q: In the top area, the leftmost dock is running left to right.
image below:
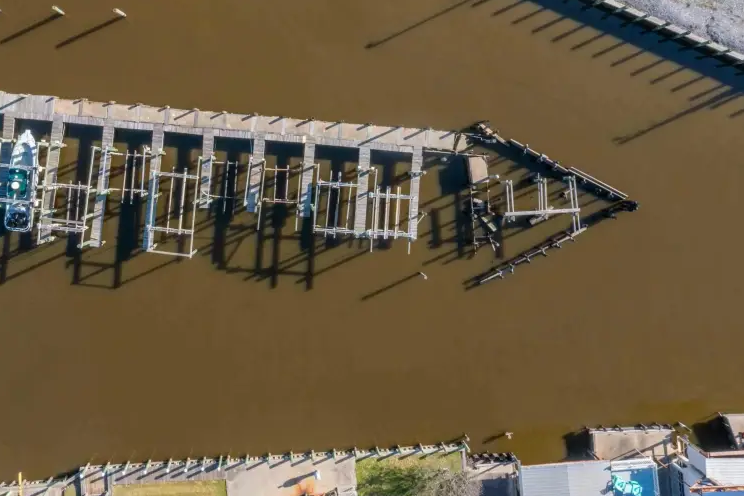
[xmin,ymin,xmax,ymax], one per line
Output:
[0,90,455,252]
